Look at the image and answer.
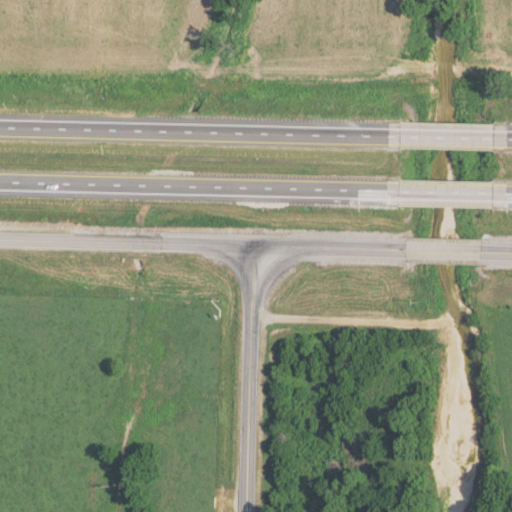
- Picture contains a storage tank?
No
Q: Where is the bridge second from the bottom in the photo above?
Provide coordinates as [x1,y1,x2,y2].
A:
[388,180,507,210]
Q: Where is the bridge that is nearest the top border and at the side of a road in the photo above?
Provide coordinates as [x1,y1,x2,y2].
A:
[388,122,508,152]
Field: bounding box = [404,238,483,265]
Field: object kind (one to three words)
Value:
bridge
